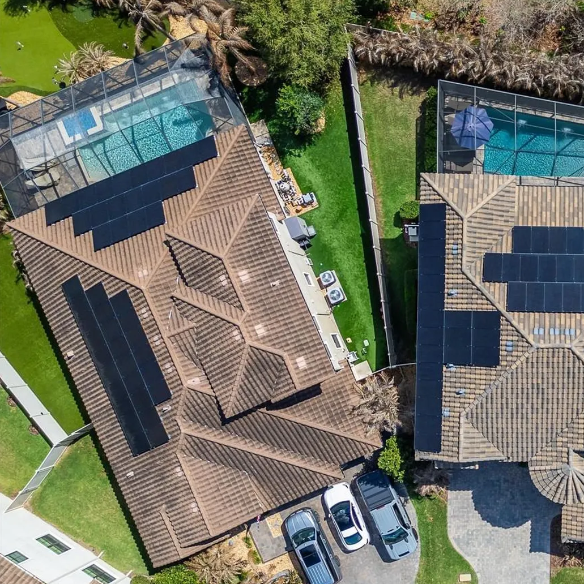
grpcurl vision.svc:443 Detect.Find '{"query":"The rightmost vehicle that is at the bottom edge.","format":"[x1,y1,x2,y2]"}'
[355,468,416,563]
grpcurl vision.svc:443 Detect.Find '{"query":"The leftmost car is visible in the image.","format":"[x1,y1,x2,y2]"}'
[287,504,342,584]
